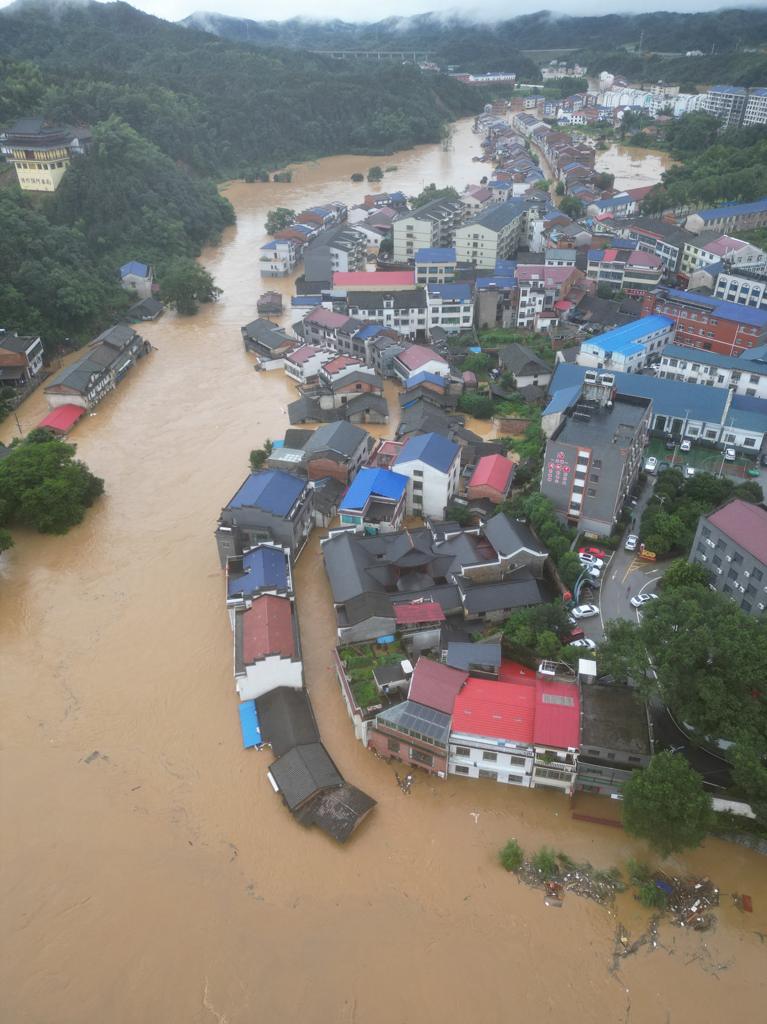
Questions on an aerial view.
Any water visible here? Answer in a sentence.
Yes, there is water in the image.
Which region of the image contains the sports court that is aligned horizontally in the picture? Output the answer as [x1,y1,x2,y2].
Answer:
[636,441,761,478]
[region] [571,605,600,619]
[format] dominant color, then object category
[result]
white car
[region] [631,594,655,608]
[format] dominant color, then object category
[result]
white car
